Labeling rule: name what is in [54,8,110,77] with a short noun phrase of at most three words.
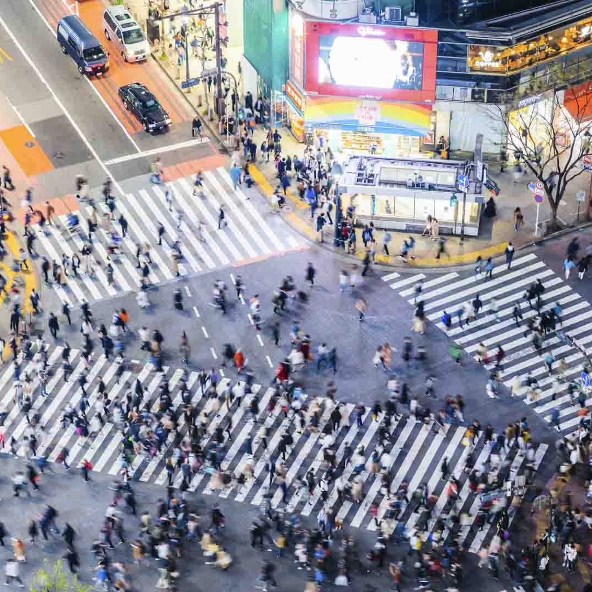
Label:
van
